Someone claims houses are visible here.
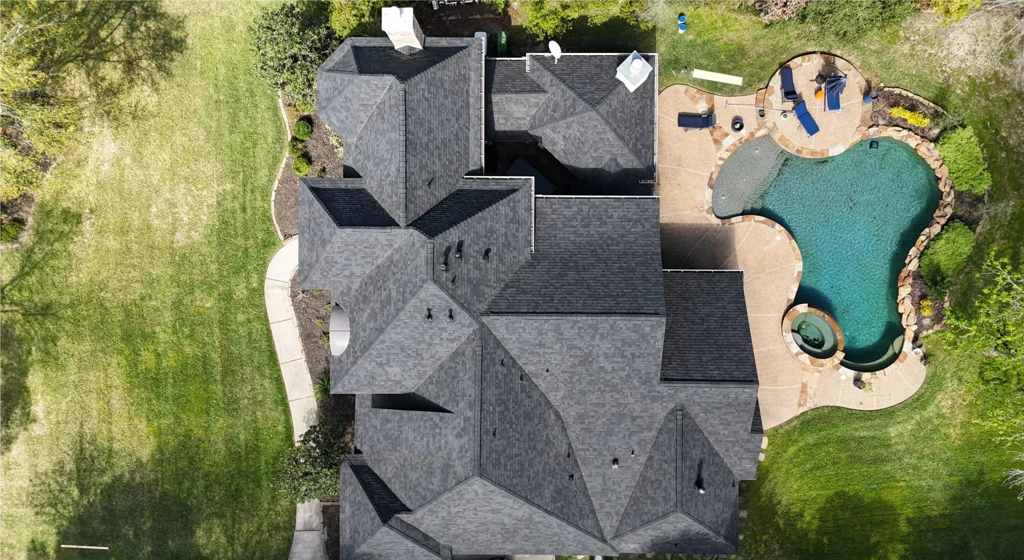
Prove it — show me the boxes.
[296,4,763,560]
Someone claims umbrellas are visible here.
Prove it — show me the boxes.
[810,64,848,96]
